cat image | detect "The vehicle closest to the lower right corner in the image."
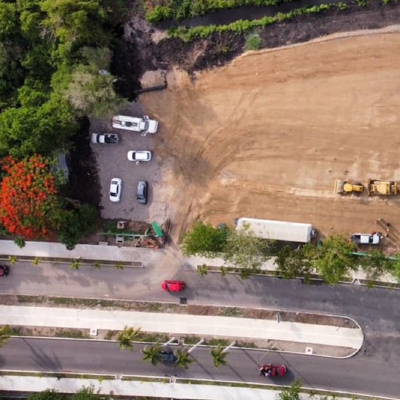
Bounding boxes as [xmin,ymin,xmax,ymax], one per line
[259,364,287,377]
